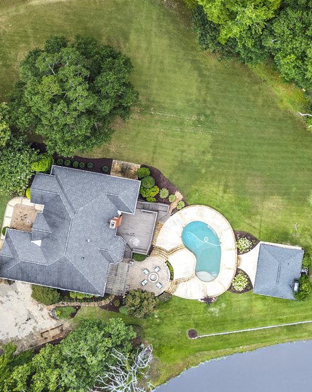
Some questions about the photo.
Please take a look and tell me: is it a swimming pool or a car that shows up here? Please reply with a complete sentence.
This aerial view contains a swimming pool.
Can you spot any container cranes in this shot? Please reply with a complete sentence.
No, there isn't any container crane down there.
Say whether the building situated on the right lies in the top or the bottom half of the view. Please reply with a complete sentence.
You can find the building situated on the right in the bottom half.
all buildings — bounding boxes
[253,243,304,301]
[0,166,142,297]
